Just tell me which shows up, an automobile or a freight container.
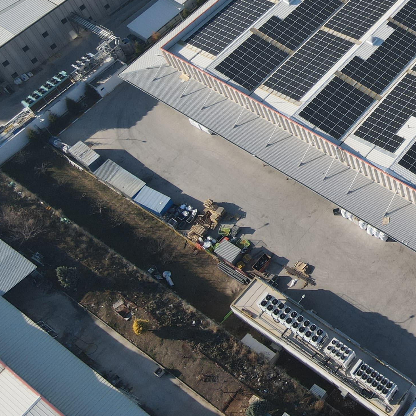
freight container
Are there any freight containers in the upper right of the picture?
No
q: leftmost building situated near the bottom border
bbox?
[0,298,148,416]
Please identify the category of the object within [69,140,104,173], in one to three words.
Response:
shipping container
